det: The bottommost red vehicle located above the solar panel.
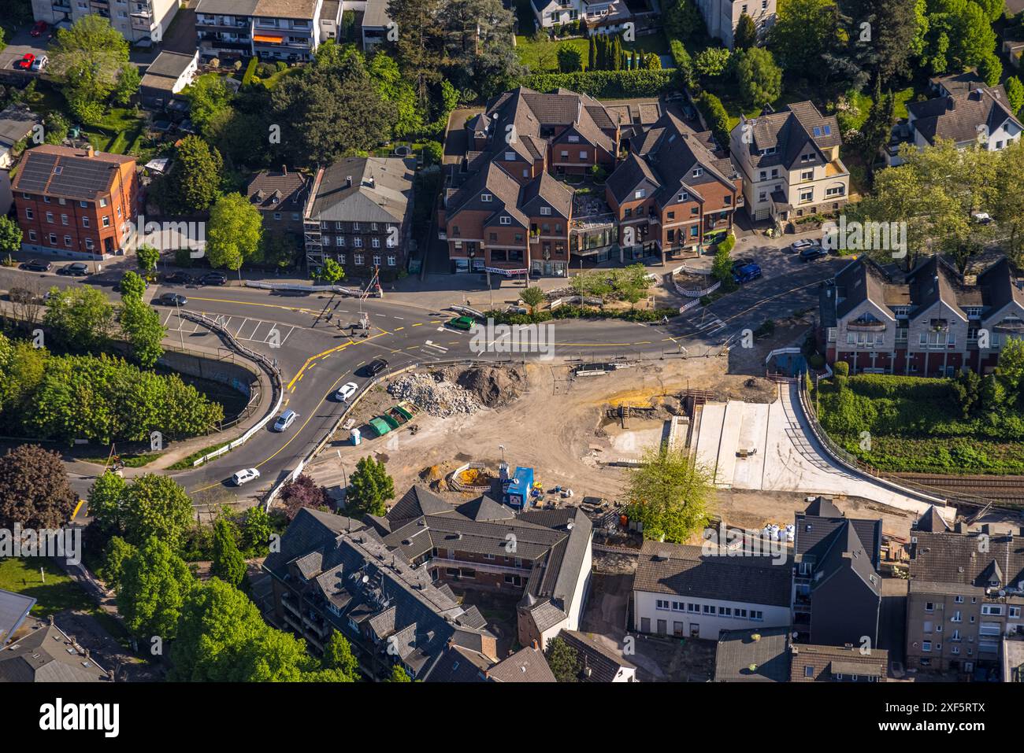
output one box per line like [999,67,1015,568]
[18,51,35,68]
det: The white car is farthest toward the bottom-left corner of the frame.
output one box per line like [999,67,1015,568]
[232,467,260,484]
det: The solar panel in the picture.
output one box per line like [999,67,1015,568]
[18,152,117,196]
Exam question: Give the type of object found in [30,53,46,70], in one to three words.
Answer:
car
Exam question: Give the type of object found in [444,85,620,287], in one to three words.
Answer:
building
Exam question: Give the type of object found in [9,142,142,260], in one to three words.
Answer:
house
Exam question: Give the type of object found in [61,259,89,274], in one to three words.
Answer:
car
